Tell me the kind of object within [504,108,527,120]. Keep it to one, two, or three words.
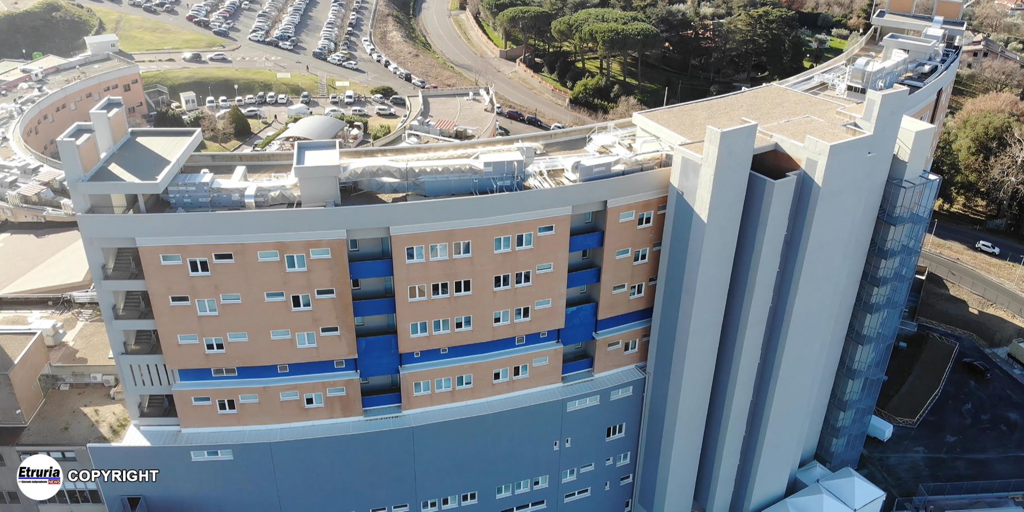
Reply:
vehicle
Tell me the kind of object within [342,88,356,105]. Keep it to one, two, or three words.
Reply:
vehicle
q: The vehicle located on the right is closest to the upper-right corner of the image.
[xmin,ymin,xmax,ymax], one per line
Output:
[973,237,1005,254]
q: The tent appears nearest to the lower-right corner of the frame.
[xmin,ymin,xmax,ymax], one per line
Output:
[817,466,886,512]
